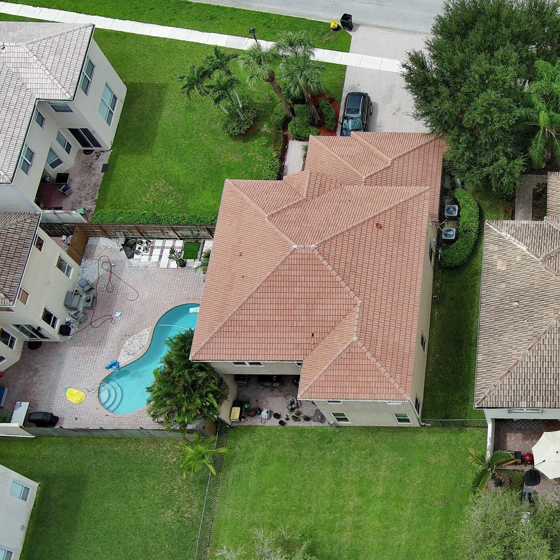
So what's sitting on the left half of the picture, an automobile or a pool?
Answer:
pool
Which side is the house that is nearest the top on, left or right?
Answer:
left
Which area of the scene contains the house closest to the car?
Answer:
center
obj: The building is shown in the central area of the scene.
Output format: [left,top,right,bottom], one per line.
[189,131,445,428]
